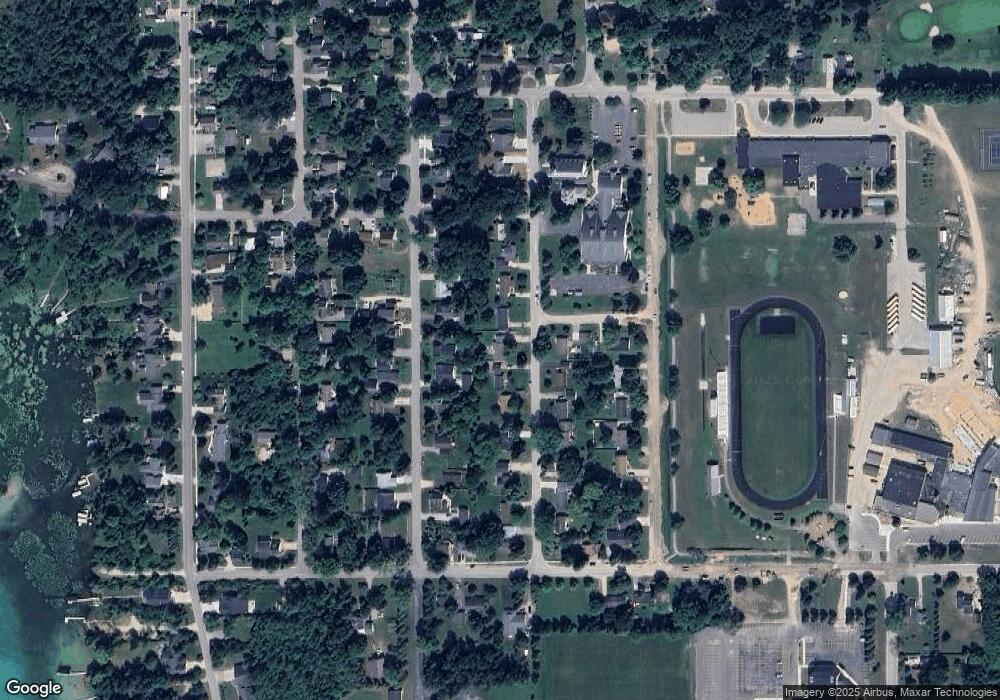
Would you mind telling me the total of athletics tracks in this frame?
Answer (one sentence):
Only 1 athletics track is visible.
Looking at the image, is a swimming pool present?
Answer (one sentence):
No, no swimming pool is visible in the view.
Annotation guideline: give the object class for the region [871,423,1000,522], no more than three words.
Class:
building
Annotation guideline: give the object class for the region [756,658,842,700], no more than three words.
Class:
building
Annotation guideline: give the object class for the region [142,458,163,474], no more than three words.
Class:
house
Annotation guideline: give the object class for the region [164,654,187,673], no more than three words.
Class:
house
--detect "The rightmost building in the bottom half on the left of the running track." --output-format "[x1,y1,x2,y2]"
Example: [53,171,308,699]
[706,464,721,496]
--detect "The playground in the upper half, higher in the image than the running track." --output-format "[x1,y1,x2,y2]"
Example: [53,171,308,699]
[714,176,775,226]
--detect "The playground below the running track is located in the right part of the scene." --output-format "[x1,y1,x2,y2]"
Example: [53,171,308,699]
[809,514,832,541]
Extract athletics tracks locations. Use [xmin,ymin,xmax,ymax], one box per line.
[729,296,827,511]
